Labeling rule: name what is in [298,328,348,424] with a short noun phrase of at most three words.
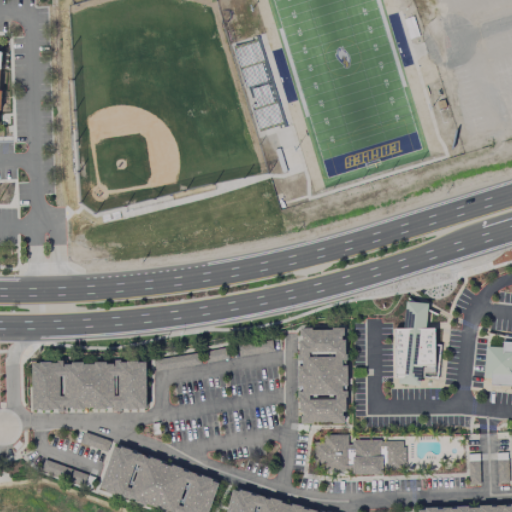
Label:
building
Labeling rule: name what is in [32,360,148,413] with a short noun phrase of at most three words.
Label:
building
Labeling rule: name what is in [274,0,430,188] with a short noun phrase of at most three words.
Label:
sports field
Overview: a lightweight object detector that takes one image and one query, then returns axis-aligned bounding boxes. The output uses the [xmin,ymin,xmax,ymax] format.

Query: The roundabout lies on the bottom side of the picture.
[0,407,23,448]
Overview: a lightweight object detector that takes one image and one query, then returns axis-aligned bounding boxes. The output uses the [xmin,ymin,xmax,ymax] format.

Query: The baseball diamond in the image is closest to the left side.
[72,0,269,214]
